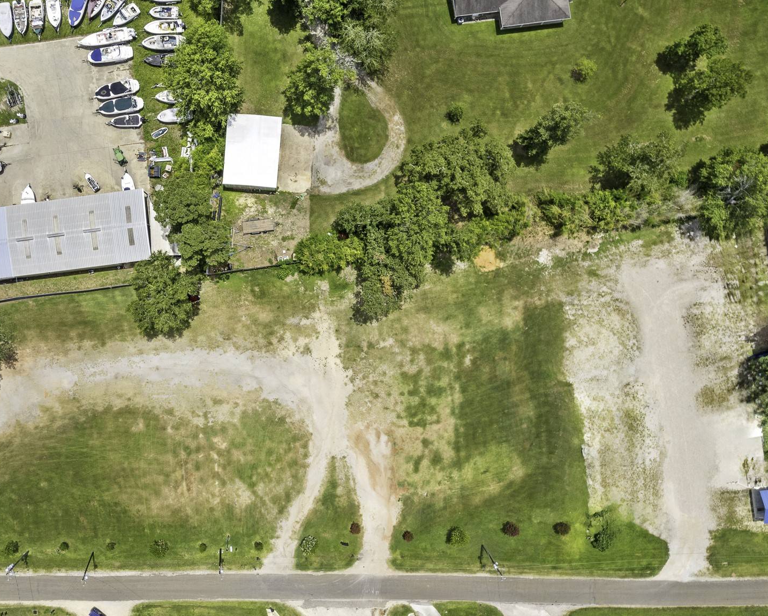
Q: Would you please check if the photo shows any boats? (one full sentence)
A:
Yes, a boat can be made out from above.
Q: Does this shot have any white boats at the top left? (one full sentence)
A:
Yes, the scene does show a white boat at the top left.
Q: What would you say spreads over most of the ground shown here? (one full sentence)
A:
The scene is dominated by grass.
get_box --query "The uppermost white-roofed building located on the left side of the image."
[223,114,282,189]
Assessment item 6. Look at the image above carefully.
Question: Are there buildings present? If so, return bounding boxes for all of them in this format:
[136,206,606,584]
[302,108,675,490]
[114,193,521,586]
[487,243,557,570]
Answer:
[0,189,153,280]
[452,0,573,31]
[754,487,768,524]
[223,114,282,189]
